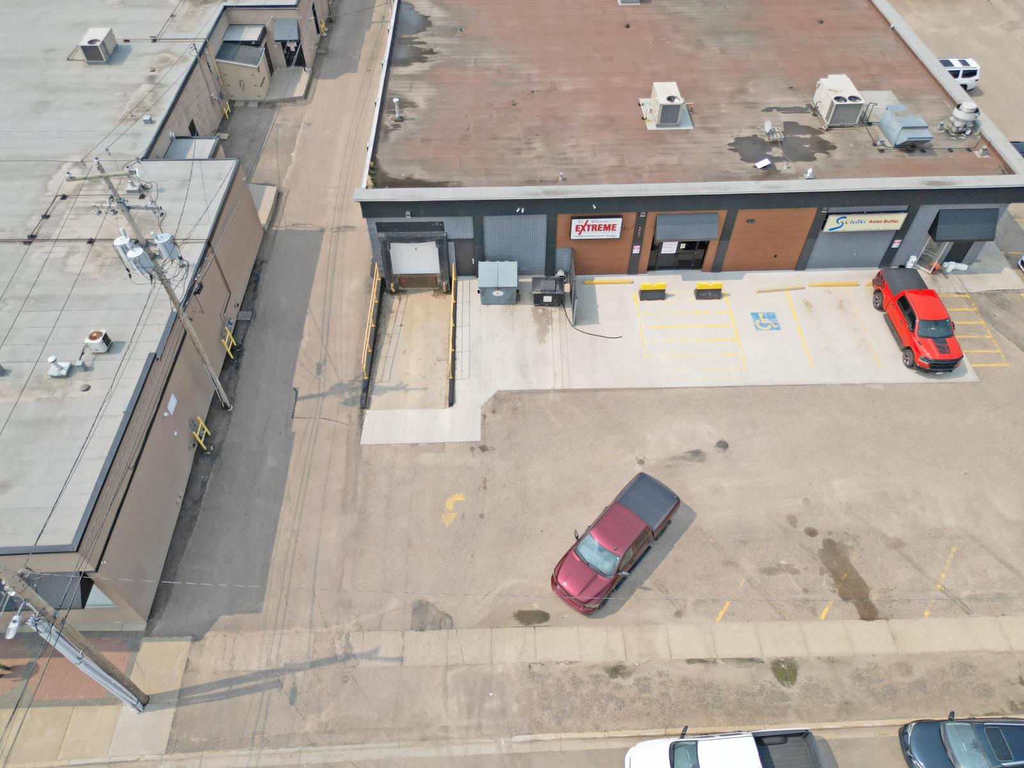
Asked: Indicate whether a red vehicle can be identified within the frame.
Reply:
Yes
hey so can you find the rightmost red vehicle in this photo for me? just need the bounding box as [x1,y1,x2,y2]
[872,272,967,378]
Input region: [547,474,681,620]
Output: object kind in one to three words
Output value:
truck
